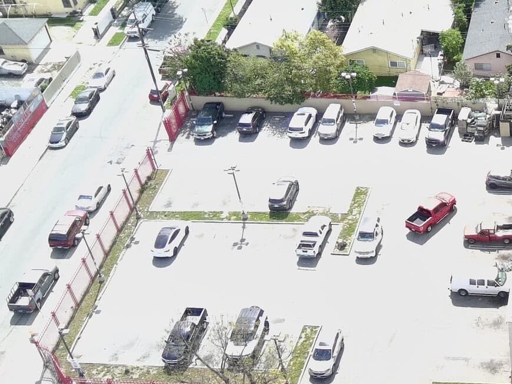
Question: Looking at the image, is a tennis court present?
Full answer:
No, the frame has no tennis court in it.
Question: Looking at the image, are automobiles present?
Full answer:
Yes, an automobile can be made out from above.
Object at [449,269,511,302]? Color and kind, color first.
white van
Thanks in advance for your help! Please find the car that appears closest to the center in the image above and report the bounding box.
[267,178,301,213]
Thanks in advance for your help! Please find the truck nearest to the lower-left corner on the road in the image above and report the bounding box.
[0,264,66,316]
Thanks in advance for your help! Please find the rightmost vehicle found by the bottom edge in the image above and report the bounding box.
[309,329,351,378]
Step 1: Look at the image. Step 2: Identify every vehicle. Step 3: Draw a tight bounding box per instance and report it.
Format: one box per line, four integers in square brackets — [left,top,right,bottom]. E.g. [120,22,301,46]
[427,107,454,143]
[292,215,334,259]
[228,303,269,359]
[354,211,384,258]
[405,194,462,234]
[239,108,265,135]
[0,58,33,78]
[309,329,351,378]
[148,224,194,262]
[47,117,84,148]
[398,113,420,142]
[319,103,343,139]
[88,66,120,92]
[461,220,512,247]
[290,110,316,138]
[72,179,119,213]
[483,168,512,189]
[124,0,154,31]
[71,83,104,115]
[161,305,212,363]
[43,210,98,249]
[194,104,223,139]
[267,178,301,213]
[449,269,511,302]
[0,264,66,316]
[373,109,395,139]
